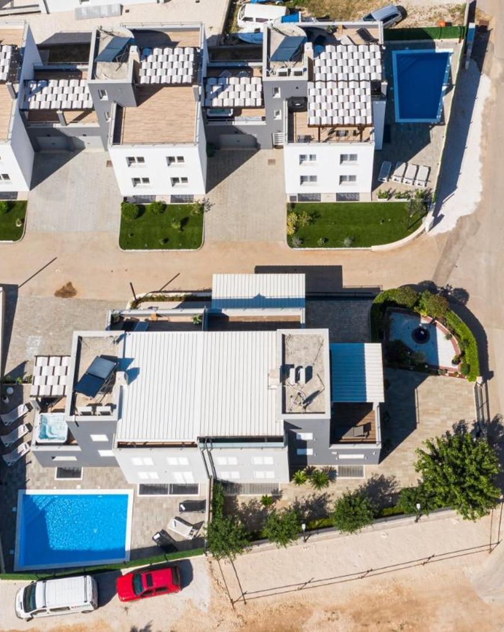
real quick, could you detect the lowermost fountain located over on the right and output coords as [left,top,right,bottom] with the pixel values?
[413,324,432,343]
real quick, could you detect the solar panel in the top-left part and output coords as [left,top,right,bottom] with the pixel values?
[94,33,134,73]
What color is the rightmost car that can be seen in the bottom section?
red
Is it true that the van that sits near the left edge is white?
Yes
